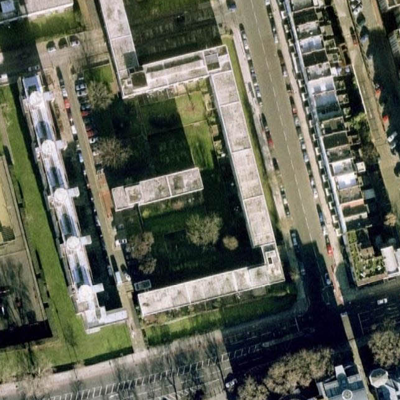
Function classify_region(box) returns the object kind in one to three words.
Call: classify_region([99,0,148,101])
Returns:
building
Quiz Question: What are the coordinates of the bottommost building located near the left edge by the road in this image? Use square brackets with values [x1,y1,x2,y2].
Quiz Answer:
[16,76,128,337]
